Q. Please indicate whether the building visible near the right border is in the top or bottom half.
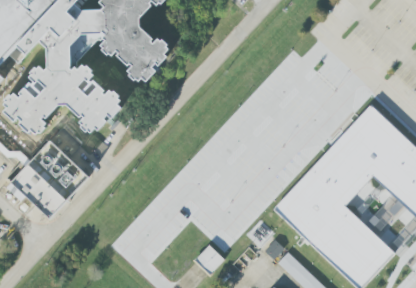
bottom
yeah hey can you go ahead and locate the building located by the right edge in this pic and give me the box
[274,106,416,288]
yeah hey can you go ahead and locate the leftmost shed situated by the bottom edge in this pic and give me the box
[194,244,225,276]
